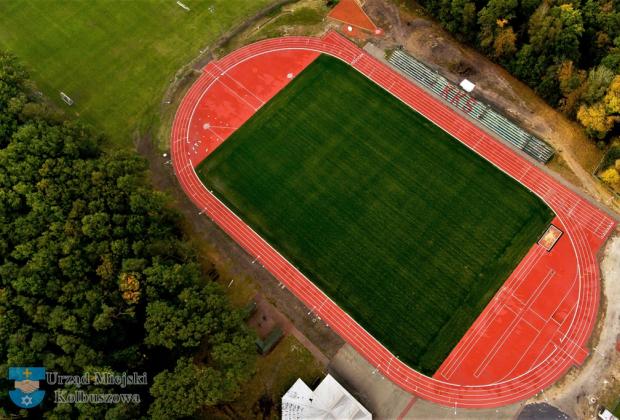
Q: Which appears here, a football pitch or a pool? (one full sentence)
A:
The one in the frame is a football pitch.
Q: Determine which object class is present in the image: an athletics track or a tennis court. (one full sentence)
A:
The image shows an athletics track.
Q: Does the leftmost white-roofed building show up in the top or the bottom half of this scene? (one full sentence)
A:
You can find the leftmost white-roofed building in the bottom half.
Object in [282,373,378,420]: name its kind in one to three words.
building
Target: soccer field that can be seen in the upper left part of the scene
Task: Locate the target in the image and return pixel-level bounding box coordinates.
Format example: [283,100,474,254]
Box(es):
[0,0,257,126]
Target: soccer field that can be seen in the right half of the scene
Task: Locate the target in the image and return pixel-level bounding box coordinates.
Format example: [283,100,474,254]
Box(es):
[194,53,556,377]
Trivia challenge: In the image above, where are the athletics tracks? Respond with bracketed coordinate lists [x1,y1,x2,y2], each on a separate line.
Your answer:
[170,29,616,410]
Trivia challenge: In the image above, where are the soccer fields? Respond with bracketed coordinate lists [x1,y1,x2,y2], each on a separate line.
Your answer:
[0,0,257,126]
[194,53,556,377]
